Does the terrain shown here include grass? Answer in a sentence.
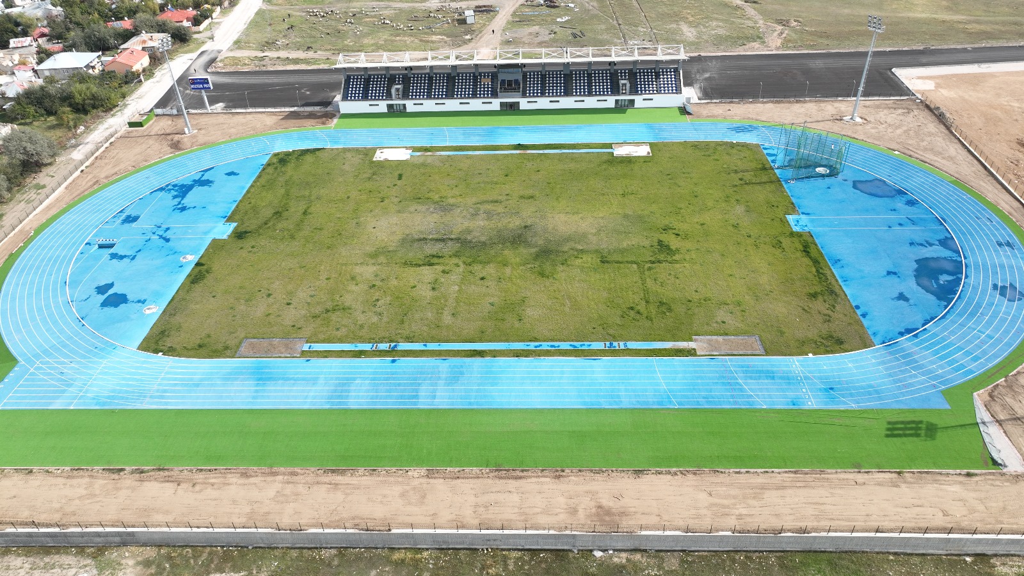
Yes, there is grass in the image.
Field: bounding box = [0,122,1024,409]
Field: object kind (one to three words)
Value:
running track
